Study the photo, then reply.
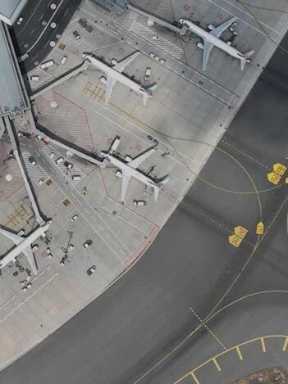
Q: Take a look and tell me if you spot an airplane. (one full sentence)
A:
Yes, the picture does show an airplane.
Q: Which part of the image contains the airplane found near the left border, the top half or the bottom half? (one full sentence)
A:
The airplane found near the left border sits in the bottom half of the picture.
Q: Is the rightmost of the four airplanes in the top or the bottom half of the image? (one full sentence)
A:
You can find the rightmost of the four airplanes in the top half.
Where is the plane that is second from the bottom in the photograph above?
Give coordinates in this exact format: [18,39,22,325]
[104,146,170,204]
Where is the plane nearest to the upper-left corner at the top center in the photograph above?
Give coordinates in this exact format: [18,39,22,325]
[84,50,159,105]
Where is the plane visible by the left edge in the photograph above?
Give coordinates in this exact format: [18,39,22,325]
[0,220,51,280]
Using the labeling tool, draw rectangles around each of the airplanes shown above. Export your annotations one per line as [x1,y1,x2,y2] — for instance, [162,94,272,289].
[84,50,159,105]
[104,146,170,204]
[0,220,51,280]
[181,14,258,70]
